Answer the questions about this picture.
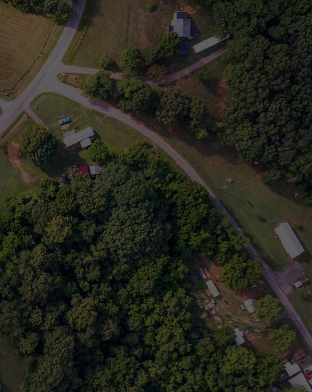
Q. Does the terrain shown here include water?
No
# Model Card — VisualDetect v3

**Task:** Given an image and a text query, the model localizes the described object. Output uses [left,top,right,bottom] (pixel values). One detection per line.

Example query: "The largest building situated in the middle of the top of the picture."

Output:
[166,11,195,55]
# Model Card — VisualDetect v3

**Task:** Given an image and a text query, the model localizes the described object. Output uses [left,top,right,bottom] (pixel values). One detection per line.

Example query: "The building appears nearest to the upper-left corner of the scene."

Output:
[63,127,94,148]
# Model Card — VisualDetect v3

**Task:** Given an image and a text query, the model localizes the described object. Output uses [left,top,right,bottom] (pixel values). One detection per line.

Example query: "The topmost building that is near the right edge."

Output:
[273,222,305,258]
